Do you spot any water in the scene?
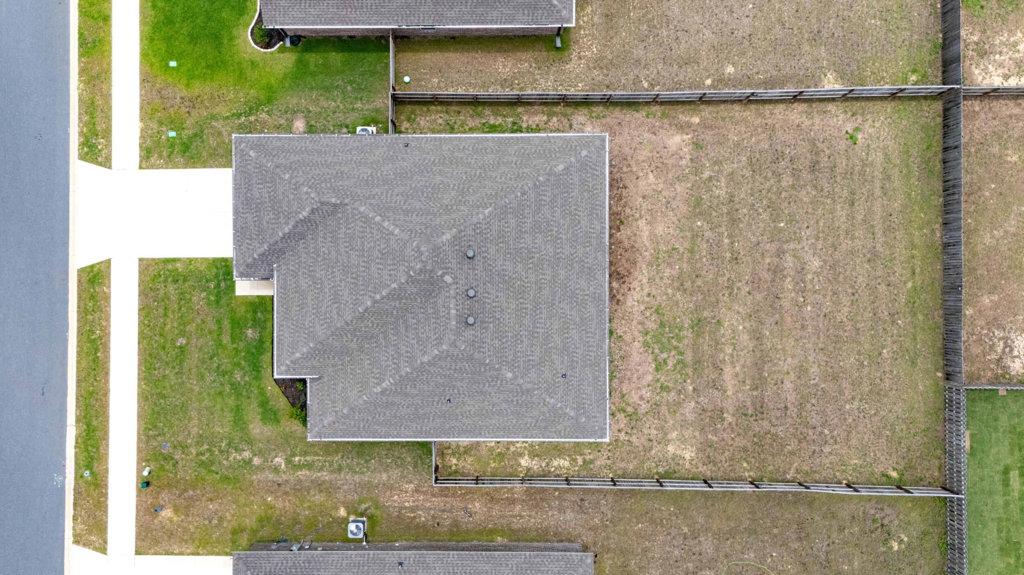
No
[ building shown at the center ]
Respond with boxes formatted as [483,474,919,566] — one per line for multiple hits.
[233,133,609,441]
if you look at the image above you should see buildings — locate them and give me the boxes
[232,542,598,575]
[233,133,609,441]
[260,0,576,39]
